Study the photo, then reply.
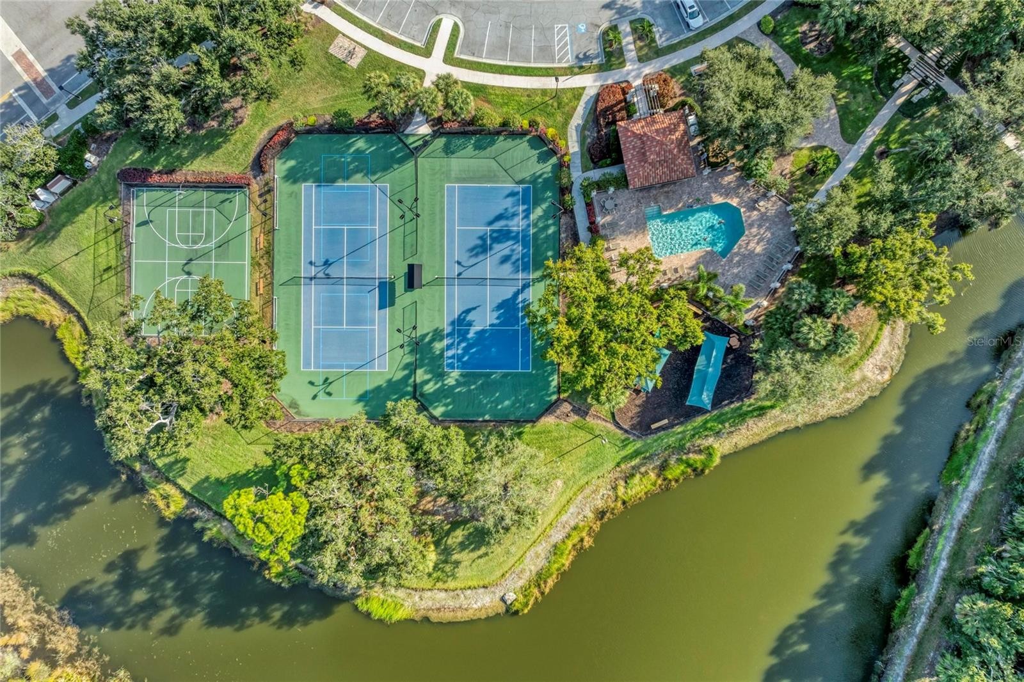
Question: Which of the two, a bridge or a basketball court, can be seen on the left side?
basketball court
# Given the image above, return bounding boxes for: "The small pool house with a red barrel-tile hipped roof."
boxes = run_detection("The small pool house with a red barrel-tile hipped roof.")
[616,109,698,190]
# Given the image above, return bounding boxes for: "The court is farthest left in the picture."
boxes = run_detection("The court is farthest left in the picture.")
[129,187,250,335]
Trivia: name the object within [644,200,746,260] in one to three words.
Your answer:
swimming pool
